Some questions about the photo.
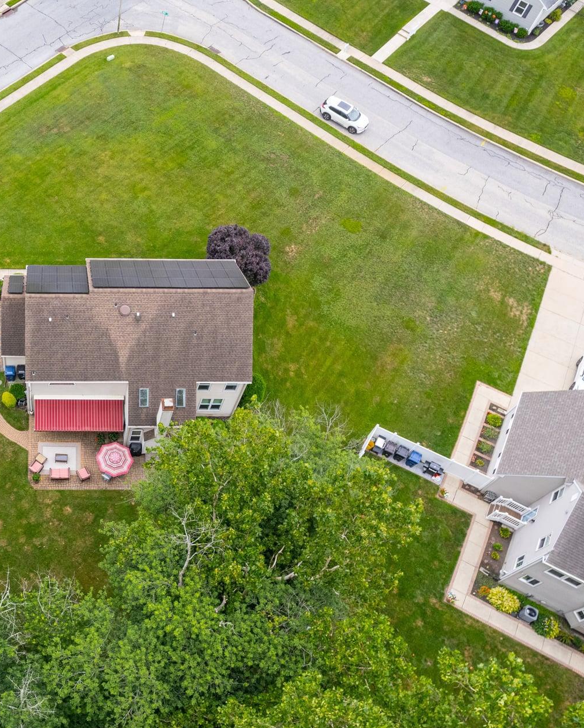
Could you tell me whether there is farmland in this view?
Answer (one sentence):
No, there's no farmland in this view.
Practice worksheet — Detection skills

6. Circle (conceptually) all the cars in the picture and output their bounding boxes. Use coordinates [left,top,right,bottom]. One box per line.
[568,352,584,390]
[320,93,372,135]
